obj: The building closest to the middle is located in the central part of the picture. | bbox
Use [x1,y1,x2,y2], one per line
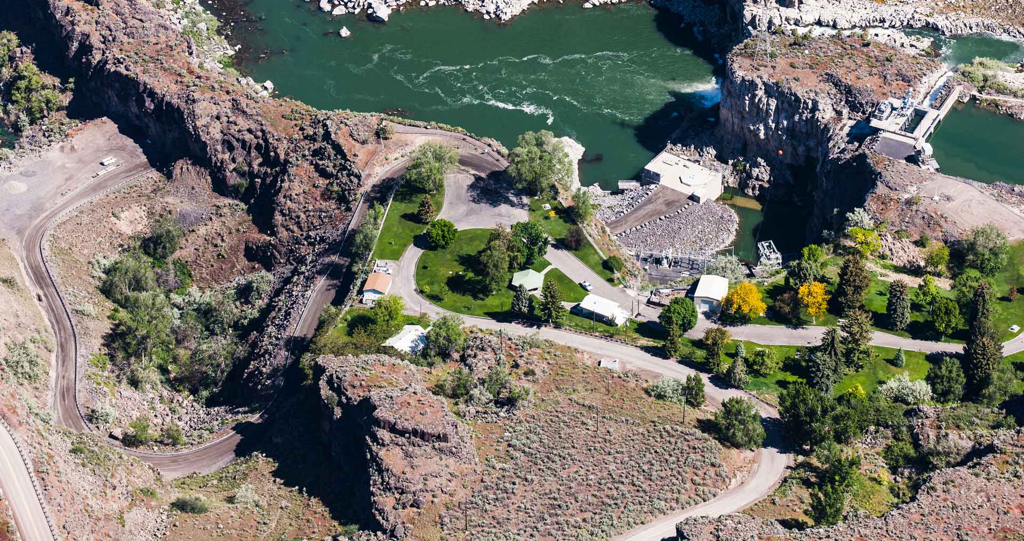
[511,269,545,293]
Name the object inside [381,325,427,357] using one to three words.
building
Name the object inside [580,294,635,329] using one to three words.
building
